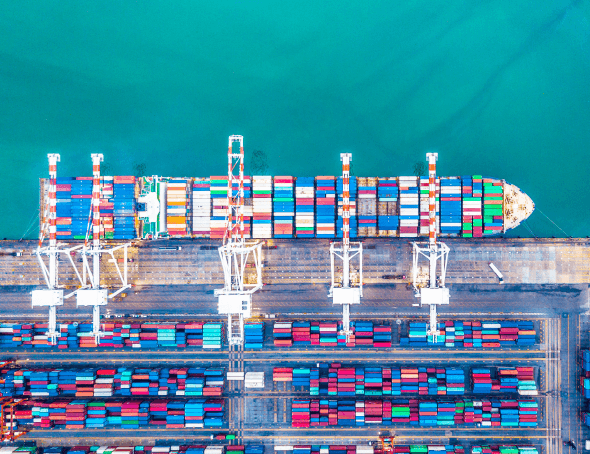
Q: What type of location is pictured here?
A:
port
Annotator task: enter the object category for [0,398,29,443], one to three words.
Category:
container crane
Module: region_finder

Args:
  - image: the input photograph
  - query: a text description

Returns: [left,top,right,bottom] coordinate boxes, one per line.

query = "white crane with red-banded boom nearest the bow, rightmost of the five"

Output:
[406,152,451,345]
